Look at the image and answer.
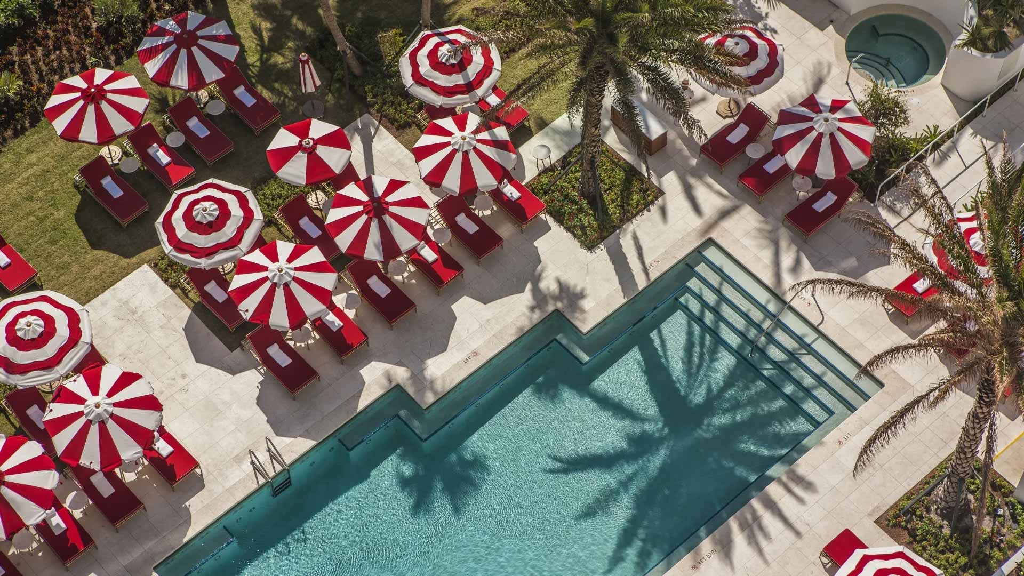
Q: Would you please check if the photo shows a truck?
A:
No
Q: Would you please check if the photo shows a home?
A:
No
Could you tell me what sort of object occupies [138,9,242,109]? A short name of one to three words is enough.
umbrella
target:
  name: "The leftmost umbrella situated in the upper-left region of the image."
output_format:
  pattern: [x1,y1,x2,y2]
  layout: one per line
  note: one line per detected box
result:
[45,64,151,165]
